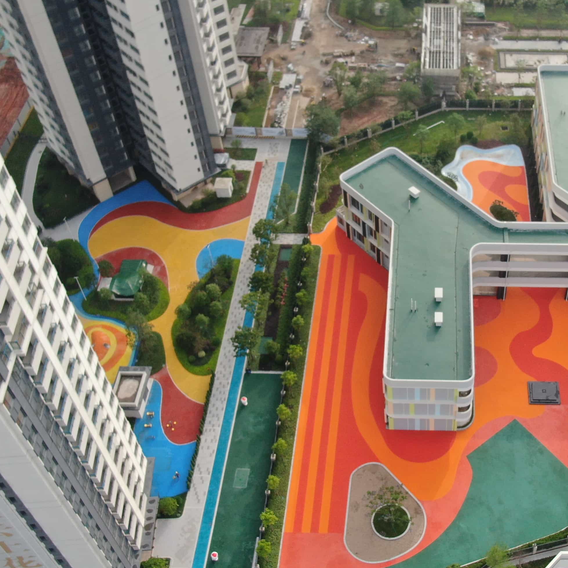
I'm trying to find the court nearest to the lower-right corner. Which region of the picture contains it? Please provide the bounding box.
[281,405,568,568]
